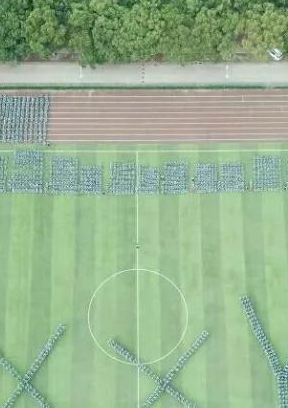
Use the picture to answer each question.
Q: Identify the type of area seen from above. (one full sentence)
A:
This looks like a sports ground.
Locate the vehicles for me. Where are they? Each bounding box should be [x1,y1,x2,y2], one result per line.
[265,44,285,60]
